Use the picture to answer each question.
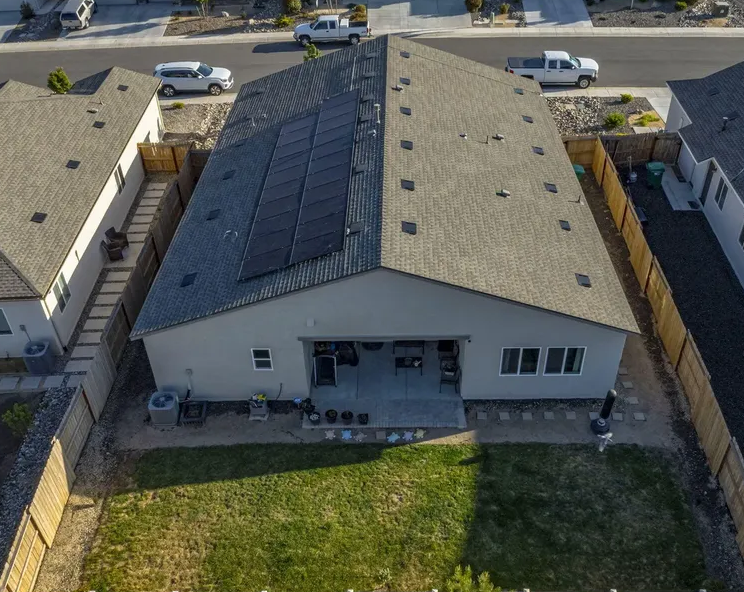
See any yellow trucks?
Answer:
No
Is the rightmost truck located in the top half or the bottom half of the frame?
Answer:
top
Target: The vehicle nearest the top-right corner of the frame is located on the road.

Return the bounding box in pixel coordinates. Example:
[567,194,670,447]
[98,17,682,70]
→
[503,49,600,87]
